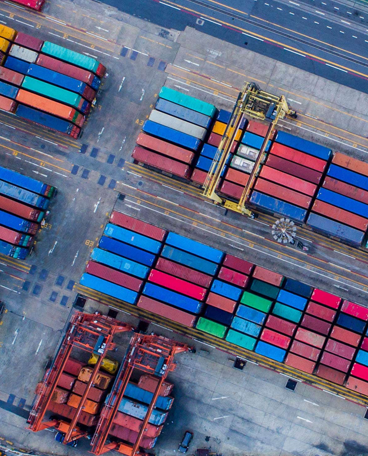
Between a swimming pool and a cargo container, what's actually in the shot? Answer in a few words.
cargo container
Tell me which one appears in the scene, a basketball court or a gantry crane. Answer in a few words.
gantry crane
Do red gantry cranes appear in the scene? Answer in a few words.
Yes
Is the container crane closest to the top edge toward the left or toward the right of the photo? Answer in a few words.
right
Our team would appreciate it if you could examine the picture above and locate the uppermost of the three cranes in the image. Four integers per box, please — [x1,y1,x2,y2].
[196,82,298,219]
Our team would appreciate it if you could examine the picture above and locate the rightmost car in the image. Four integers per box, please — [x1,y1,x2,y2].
[179,430,193,455]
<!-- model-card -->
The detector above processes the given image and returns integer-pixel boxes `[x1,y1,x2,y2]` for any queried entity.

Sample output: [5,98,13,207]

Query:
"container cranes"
[196,82,298,219]
[79,328,199,456]
[16,309,142,451]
